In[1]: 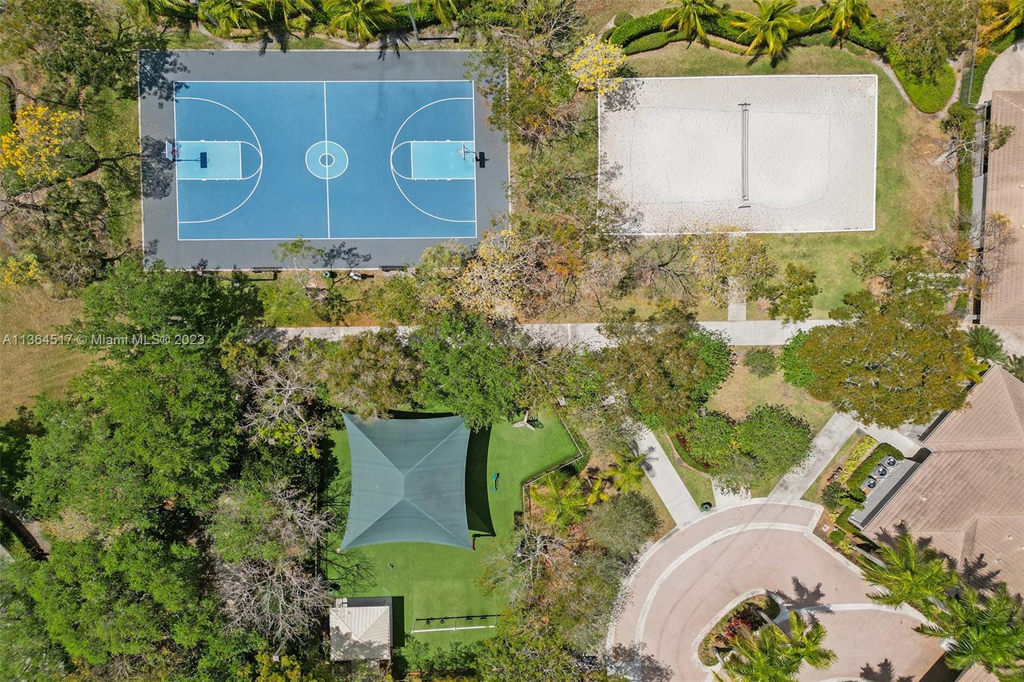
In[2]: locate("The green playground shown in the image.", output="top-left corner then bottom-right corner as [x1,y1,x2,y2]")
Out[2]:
[319,404,577,675]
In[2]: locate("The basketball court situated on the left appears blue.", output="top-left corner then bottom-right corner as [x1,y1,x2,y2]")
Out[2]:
[138,48,513,270]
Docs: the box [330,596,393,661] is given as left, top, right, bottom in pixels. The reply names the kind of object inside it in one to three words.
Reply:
building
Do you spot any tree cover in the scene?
Yes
